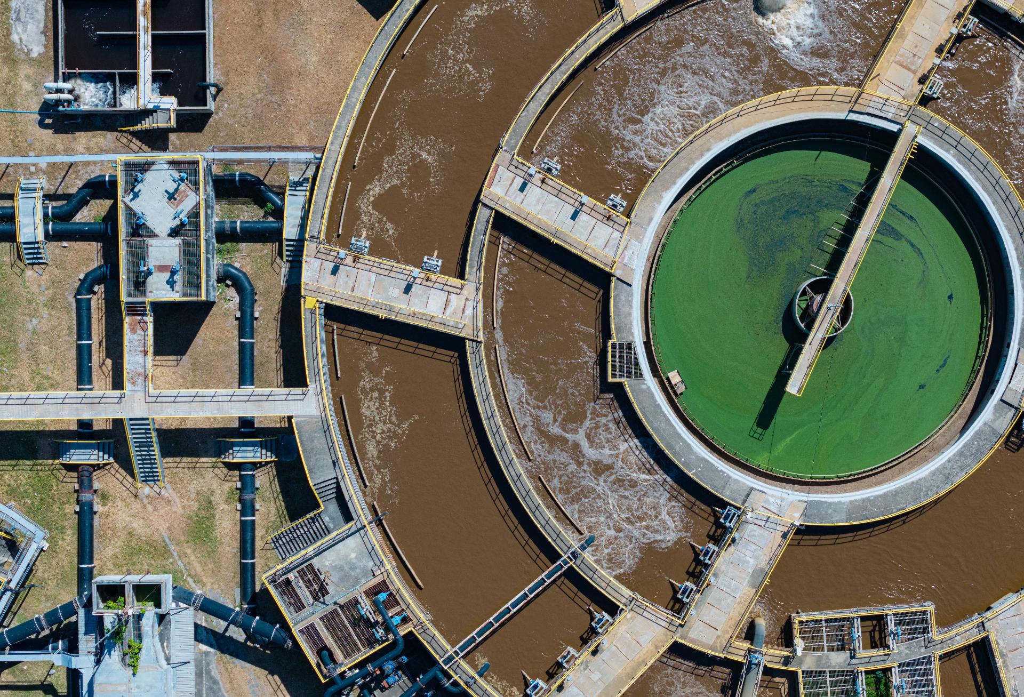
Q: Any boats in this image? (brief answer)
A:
No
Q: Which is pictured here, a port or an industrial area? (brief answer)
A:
industrial area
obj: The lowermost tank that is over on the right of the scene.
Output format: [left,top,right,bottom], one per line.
[607,87,1024,526]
